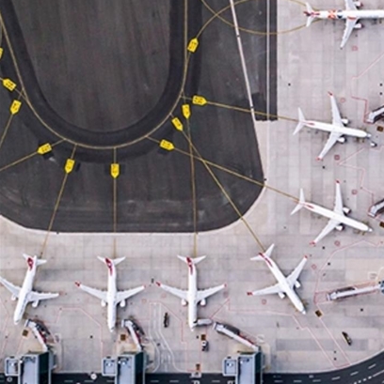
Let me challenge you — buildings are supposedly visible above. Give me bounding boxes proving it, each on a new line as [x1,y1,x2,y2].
[4,351,58,384]
[223,352,271,384]
[101,352,153,384]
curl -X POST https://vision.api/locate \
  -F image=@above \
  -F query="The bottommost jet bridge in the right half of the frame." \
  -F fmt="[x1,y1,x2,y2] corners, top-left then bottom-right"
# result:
[212,322,265,353]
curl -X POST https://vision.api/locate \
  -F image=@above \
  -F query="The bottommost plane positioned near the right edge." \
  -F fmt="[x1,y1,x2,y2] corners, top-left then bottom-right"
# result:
[294,180,371,243]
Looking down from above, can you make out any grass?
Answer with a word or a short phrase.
No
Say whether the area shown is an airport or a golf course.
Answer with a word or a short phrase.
airport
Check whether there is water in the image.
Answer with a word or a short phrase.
No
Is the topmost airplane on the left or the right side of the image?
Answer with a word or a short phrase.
right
